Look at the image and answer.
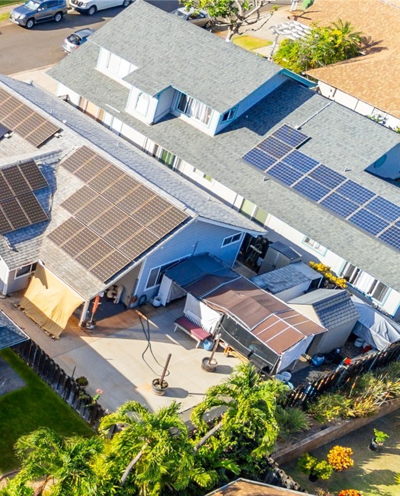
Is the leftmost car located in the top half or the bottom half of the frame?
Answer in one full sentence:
Seen from above, the leftmost car lies in the top half of the view.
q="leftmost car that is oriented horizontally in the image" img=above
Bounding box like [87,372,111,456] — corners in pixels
[7,0,70,29]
